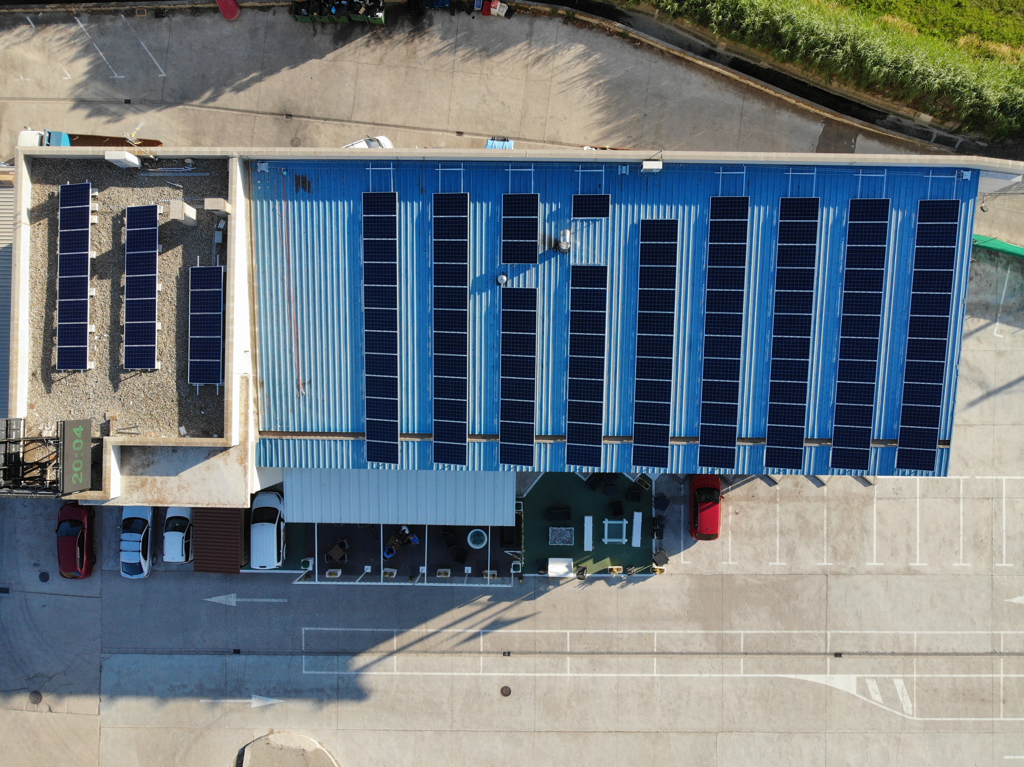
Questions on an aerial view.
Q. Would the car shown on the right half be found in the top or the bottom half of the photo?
bottom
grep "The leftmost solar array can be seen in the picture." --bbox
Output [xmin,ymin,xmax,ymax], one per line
[56,181,97,373]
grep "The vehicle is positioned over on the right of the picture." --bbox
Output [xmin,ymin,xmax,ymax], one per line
[688,474,729,541]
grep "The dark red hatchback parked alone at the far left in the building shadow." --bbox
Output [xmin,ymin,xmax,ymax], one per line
[52,499,102,582]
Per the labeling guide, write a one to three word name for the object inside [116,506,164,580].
car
